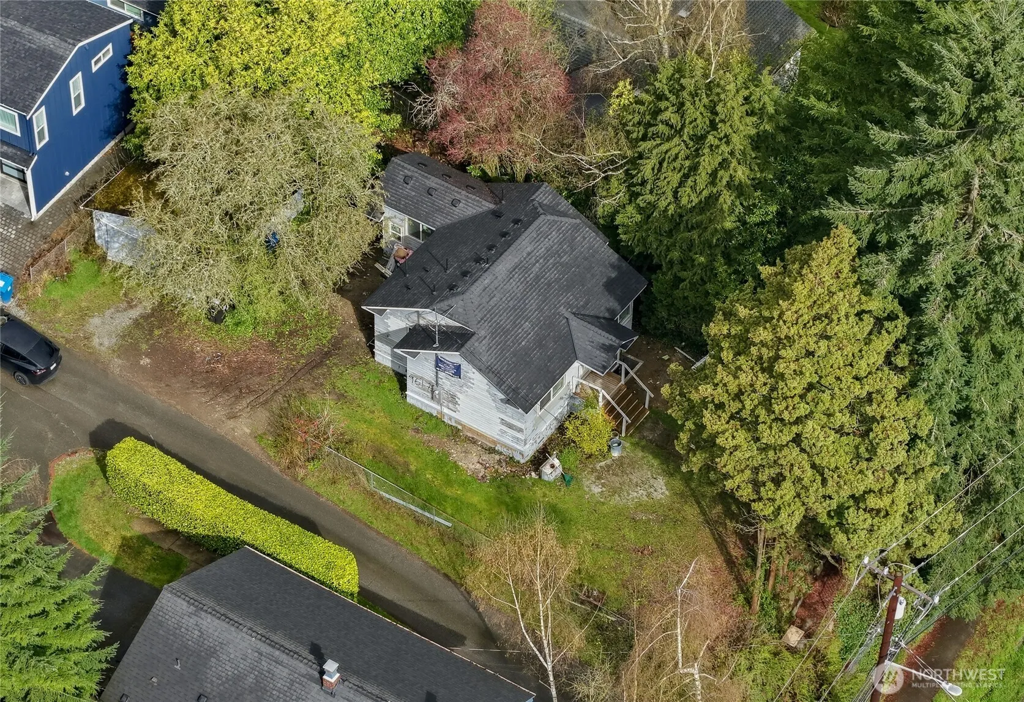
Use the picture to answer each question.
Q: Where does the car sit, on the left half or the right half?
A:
left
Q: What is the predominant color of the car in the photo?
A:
black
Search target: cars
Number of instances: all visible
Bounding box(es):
[0,306,70,389]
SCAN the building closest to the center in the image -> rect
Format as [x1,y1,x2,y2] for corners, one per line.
[357,151,655,461]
